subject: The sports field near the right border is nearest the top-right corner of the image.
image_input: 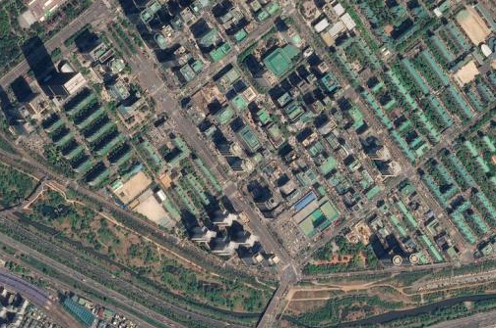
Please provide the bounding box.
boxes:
[456,5,493,45]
